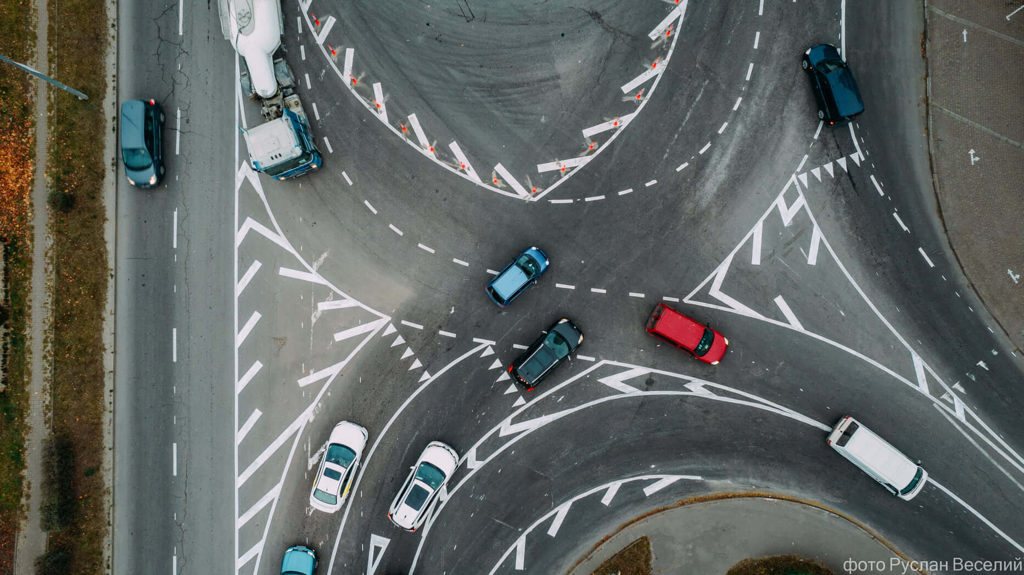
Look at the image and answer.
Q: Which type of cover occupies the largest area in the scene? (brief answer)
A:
paved ground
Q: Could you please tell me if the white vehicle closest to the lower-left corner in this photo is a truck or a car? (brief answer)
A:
car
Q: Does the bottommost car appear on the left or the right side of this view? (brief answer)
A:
left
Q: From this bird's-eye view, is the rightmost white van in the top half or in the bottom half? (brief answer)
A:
bottom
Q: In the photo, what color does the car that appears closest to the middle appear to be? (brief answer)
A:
blue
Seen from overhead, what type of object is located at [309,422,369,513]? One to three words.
car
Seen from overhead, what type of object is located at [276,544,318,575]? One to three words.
car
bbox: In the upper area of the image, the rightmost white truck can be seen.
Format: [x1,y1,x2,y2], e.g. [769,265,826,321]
[215,0,322,183]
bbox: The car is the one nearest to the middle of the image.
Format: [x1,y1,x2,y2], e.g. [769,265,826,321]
[485,245,549,307]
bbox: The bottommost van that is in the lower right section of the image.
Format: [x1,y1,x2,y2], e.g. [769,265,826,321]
[827,418,925,499]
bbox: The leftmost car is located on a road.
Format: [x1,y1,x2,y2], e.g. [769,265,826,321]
[119,103,166,187]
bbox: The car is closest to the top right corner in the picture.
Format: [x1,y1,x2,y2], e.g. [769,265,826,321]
[805,45,861,125]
